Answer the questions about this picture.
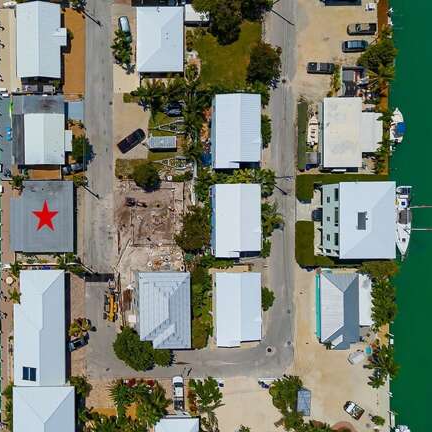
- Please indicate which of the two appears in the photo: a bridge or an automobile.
automobile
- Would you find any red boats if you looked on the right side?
No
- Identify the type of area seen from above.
residential area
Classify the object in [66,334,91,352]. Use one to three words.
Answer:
car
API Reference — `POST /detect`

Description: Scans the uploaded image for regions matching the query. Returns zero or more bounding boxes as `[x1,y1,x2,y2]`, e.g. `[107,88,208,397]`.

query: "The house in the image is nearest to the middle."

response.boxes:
[213,184,262,258]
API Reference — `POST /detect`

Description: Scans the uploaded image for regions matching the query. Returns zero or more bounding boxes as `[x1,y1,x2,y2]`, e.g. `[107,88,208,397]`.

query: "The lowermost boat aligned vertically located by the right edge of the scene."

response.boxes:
[396,186,432,262]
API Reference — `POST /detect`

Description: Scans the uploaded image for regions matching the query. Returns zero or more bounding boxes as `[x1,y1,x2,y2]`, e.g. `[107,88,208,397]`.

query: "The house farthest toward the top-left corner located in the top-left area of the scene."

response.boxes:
[16,0,67,79]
